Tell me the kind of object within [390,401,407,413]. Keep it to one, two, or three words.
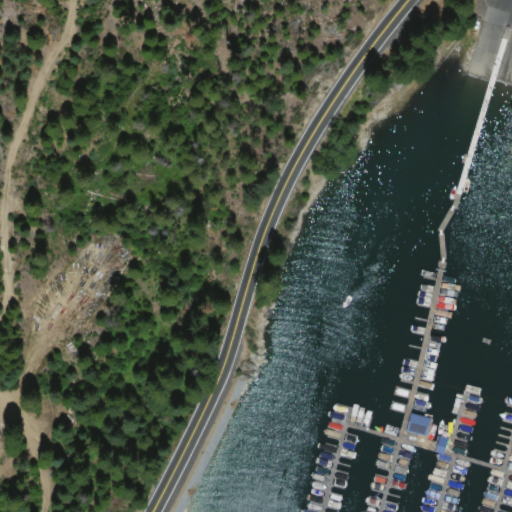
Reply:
boat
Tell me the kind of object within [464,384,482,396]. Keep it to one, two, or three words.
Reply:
boat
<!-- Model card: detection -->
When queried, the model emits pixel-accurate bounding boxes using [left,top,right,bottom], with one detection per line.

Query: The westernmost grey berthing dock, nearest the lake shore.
[310,406,355,512]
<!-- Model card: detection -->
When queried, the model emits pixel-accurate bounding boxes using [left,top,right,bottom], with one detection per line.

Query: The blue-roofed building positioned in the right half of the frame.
[407,413,433,436]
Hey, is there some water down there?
Yes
